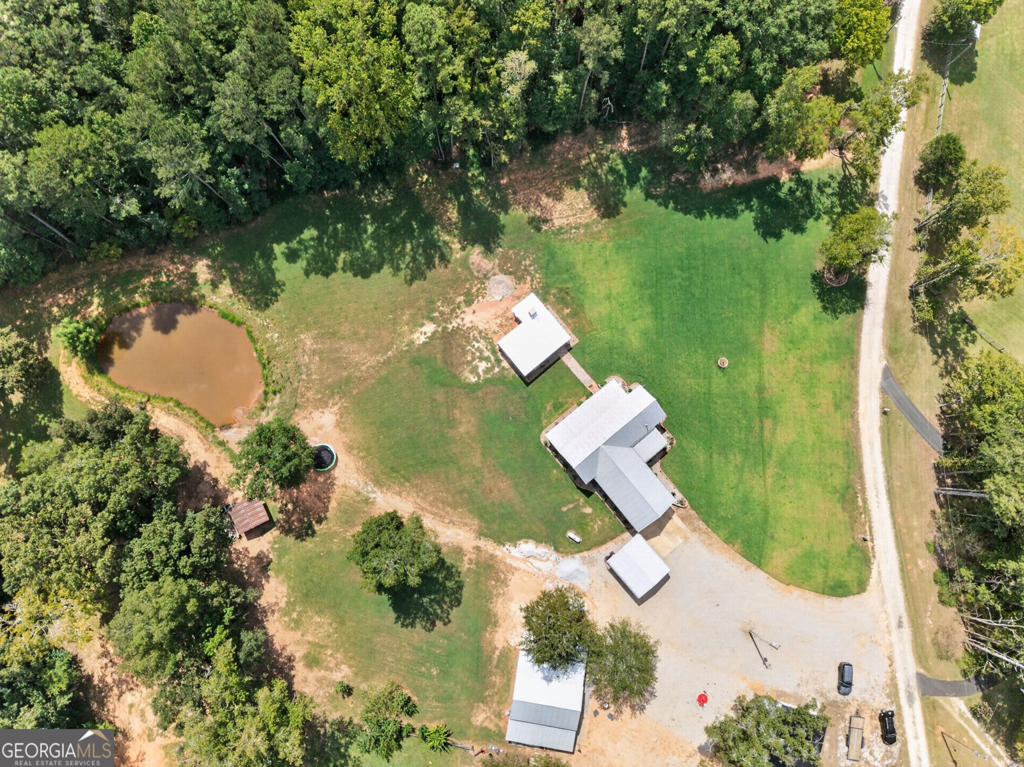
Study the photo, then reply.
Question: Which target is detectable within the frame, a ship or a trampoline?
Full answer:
This aerial view contains a trampoline.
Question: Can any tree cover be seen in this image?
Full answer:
Yes, the picture does contain tree cover.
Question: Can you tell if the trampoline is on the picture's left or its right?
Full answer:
The trampoline appears in the left half of the scene.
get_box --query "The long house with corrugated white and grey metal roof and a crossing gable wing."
[545,379,676,532]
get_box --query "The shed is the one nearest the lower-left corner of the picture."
[230,499,272,534]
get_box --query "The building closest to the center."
[497,293,570,376]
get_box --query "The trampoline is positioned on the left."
[311,444,338,471]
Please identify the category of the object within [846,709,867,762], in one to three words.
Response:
trailer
